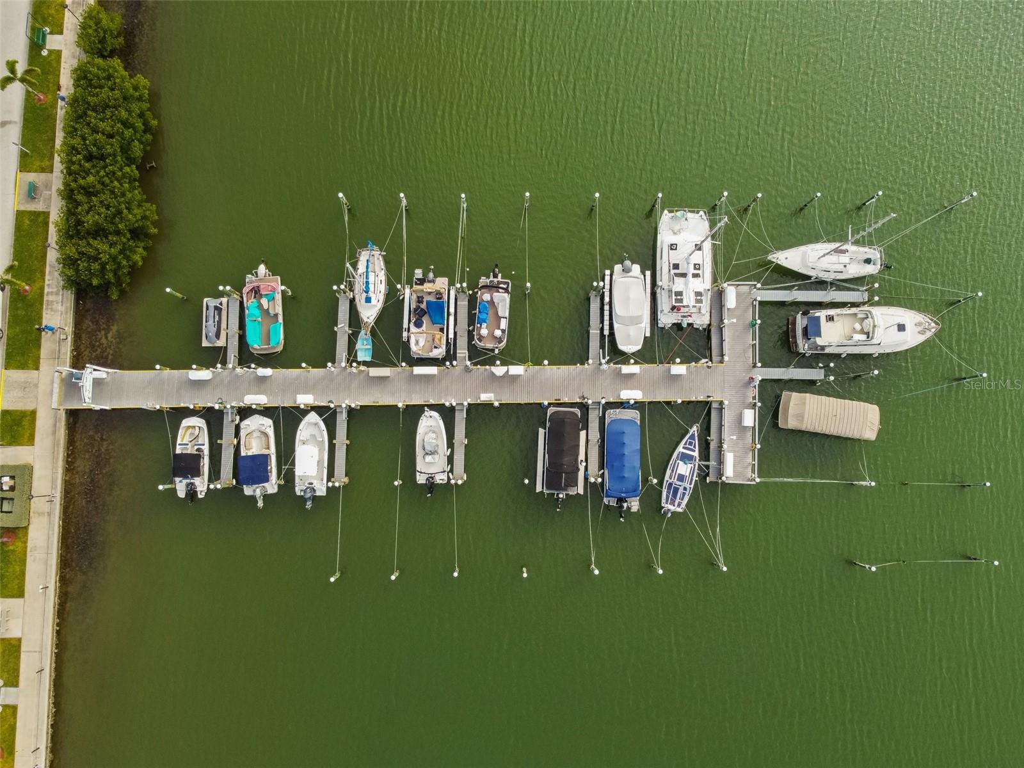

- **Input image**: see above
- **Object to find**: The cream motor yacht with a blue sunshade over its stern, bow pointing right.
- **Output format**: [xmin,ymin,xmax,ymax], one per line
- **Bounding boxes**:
[789,305,942,357]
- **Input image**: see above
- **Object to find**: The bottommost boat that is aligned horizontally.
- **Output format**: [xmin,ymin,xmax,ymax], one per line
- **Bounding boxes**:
[776,391,881,440]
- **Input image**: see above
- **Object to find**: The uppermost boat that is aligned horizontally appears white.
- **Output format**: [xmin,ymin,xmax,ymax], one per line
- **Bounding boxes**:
[766,213,896,282]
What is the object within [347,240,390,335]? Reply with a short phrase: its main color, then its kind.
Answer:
white boat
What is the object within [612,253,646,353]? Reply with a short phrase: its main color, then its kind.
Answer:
white boat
